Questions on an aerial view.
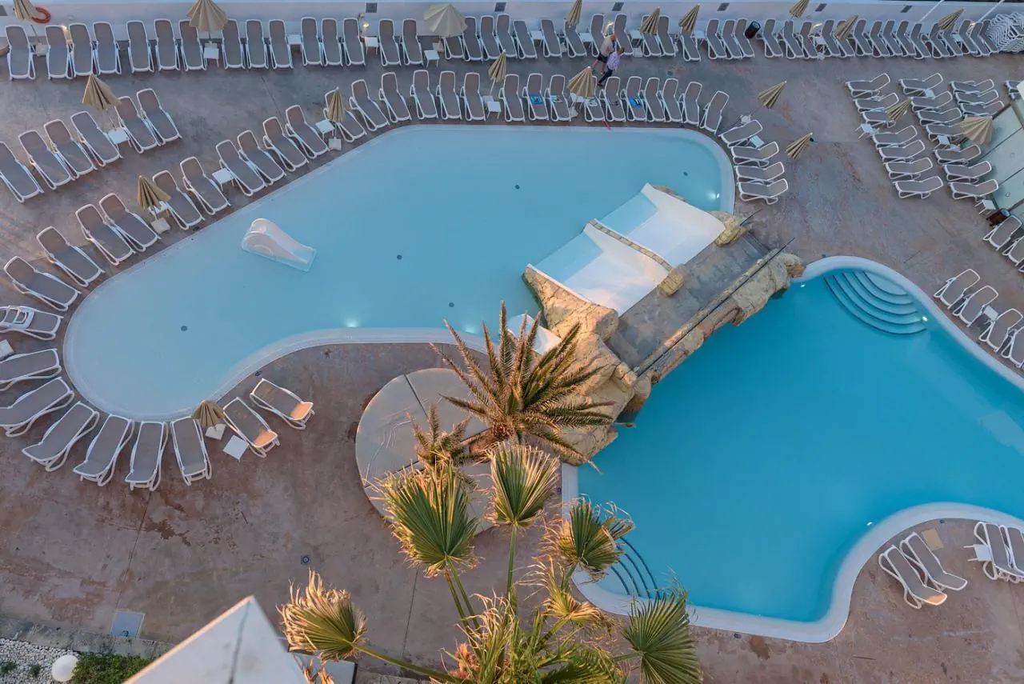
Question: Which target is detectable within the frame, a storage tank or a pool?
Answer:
pool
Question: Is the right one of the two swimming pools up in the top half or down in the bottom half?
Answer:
bottom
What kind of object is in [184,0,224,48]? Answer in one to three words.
umbrella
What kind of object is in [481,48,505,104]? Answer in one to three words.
umbrella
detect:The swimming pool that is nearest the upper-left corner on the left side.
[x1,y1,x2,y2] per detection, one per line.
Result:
[70,131,724,420]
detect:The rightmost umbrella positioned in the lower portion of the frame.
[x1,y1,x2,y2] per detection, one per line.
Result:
[192,399,230,442]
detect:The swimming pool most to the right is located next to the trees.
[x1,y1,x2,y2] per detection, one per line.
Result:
[577,266,1024,625]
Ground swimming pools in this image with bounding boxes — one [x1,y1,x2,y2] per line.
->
[577,266,1024,625]
[70,131,724,420]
